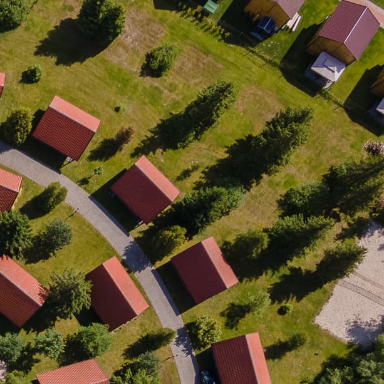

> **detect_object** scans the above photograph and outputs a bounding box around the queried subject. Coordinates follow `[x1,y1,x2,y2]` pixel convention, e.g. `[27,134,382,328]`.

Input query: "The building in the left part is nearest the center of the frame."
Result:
[109,155,180,227]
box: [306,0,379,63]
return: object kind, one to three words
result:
house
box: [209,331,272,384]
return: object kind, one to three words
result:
building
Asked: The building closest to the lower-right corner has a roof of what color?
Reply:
red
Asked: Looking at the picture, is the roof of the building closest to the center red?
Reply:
Yes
